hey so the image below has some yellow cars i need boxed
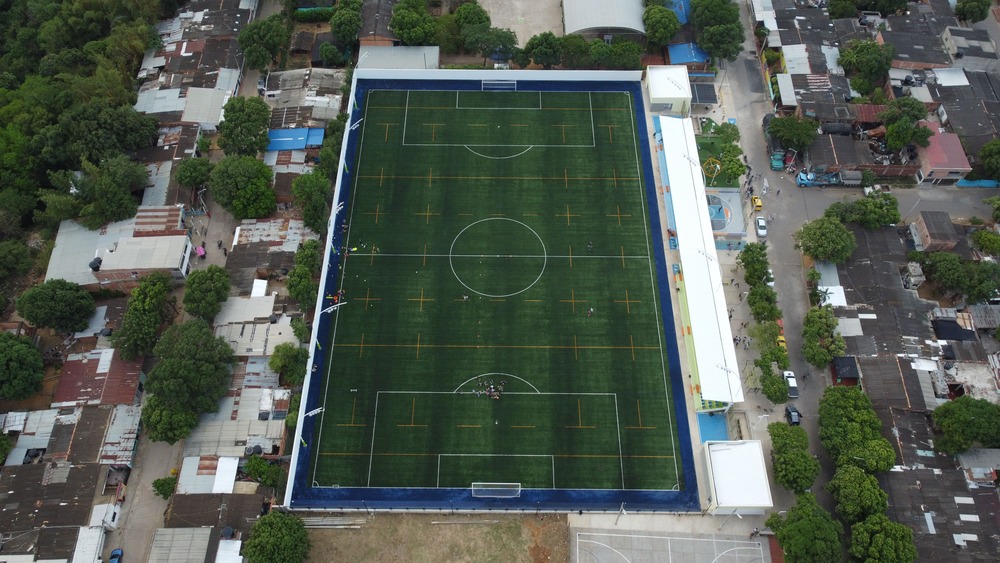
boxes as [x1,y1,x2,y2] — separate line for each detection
[751,195,764,213]
[775,337,788,352]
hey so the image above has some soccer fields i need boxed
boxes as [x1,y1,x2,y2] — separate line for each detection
[291,79,698,509]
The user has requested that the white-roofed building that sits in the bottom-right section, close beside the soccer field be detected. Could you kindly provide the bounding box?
[701,440,772,516]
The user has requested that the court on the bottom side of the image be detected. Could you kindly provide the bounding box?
[568,527,783,563]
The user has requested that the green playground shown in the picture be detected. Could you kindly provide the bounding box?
[695,118,744,180]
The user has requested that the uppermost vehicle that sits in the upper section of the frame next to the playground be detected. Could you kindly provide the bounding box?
[763,118,783,173]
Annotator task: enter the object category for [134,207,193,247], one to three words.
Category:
house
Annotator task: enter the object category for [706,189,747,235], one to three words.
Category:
basketball court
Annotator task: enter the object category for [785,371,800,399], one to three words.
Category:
vehicle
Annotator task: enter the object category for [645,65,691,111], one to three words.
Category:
building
